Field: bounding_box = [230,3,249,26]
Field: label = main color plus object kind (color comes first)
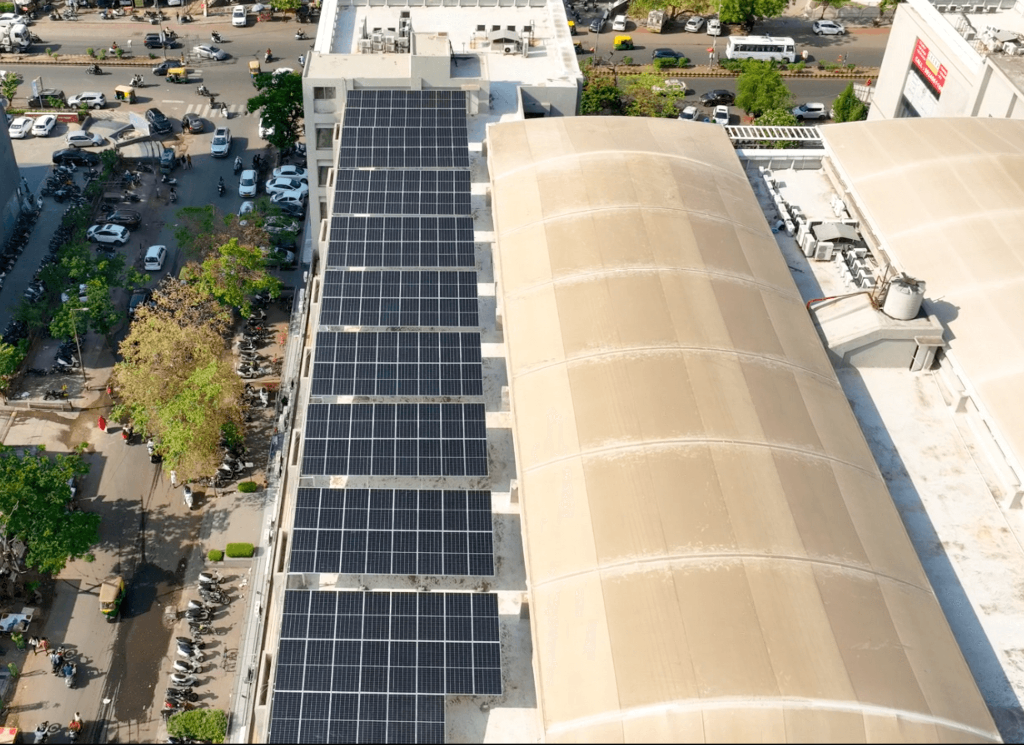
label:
white car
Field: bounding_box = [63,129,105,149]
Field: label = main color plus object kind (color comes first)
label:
gray car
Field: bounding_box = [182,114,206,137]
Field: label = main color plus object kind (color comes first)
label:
gray car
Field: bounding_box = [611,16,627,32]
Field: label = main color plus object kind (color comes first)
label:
white car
